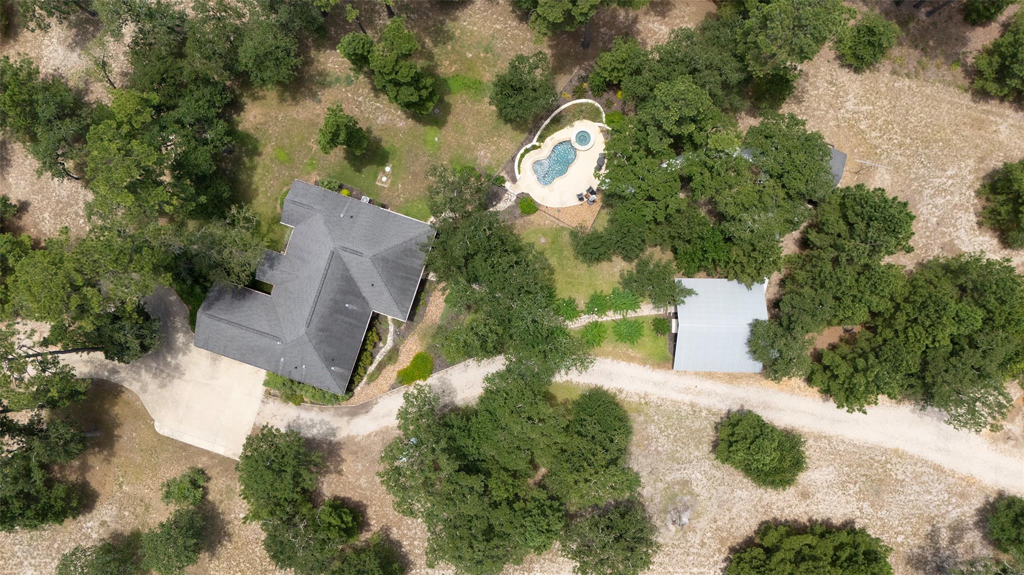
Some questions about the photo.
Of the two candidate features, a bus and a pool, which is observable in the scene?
pool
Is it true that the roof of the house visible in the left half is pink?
No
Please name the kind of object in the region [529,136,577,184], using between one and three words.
swimming pool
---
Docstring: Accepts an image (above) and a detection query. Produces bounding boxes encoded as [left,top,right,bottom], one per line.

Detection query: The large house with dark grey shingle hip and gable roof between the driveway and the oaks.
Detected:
[193,178,436,397]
